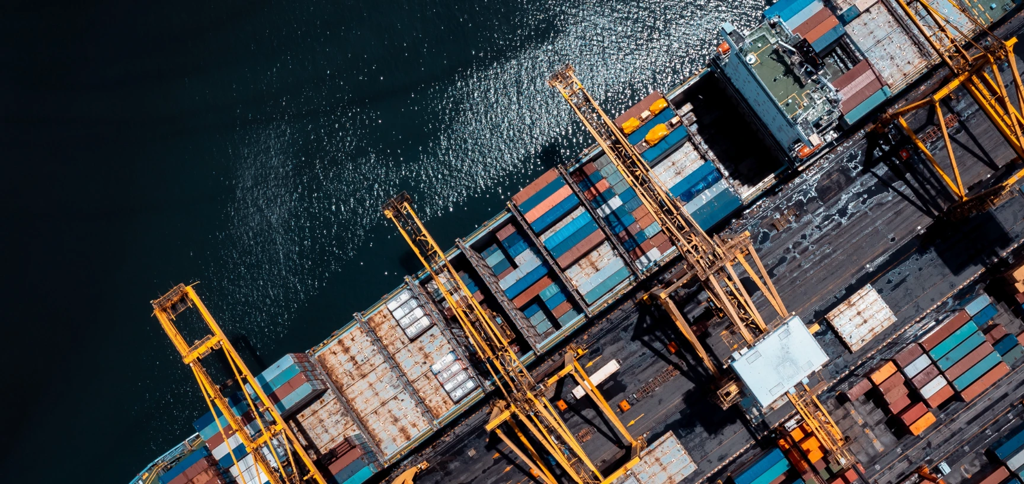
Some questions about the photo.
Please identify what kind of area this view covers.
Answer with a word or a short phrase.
port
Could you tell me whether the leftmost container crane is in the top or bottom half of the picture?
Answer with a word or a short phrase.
bottom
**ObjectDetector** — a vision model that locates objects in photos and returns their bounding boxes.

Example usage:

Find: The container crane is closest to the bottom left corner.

[147,278,333,484]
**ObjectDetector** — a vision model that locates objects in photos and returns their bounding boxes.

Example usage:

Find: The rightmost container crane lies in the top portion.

[867,0,1024,225]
